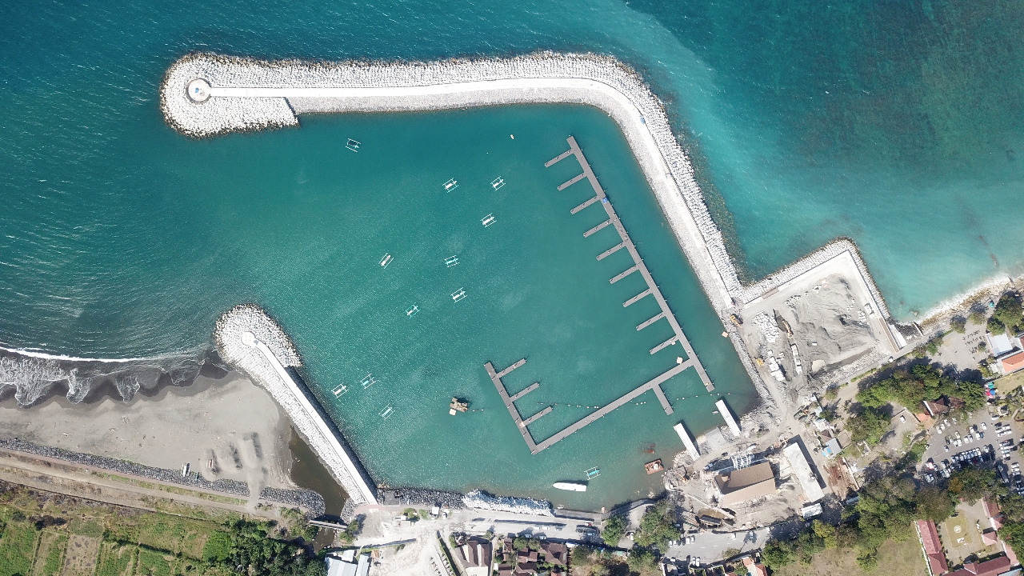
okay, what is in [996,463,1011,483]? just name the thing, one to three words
vehicle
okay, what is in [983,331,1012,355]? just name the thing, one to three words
building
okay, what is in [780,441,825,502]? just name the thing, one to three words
building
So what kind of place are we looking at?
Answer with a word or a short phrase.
port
